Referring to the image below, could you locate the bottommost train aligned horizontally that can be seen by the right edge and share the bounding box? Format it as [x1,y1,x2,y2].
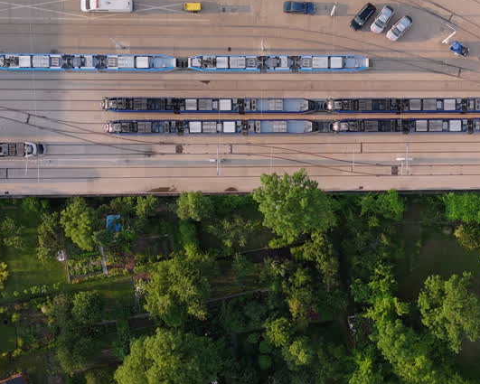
[325,117,480,136]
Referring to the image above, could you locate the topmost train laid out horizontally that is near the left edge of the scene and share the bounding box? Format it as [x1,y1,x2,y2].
[0,54,182,73]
